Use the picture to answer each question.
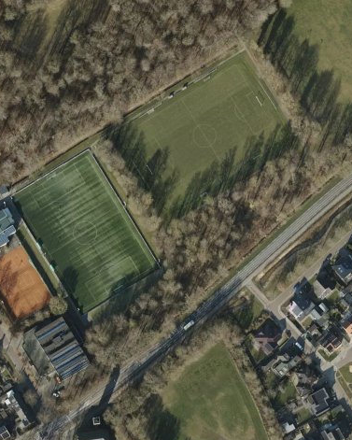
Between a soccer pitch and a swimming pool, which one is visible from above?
soccer pitch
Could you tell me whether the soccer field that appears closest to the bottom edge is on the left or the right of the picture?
left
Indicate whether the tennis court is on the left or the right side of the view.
left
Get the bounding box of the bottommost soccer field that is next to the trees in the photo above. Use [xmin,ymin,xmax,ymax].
[15,151,159,312]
